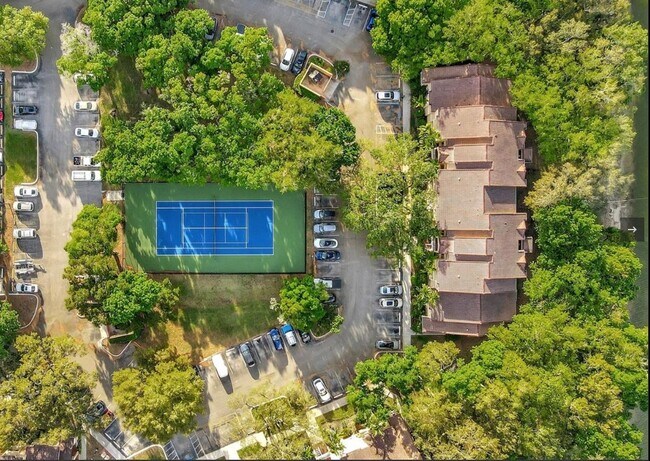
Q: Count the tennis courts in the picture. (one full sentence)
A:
The photo contains exactly 1 tennis court.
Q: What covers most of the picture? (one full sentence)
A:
The scene is dominated by trees.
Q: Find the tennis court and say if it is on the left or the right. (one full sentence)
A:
The tennis court sits on the left side.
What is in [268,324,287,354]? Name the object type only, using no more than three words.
vehicle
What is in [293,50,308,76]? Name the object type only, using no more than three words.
car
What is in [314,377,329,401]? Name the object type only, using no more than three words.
car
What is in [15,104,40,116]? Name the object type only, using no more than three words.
vehicle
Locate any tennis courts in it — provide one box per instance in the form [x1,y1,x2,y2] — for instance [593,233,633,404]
[124,183,305,274]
